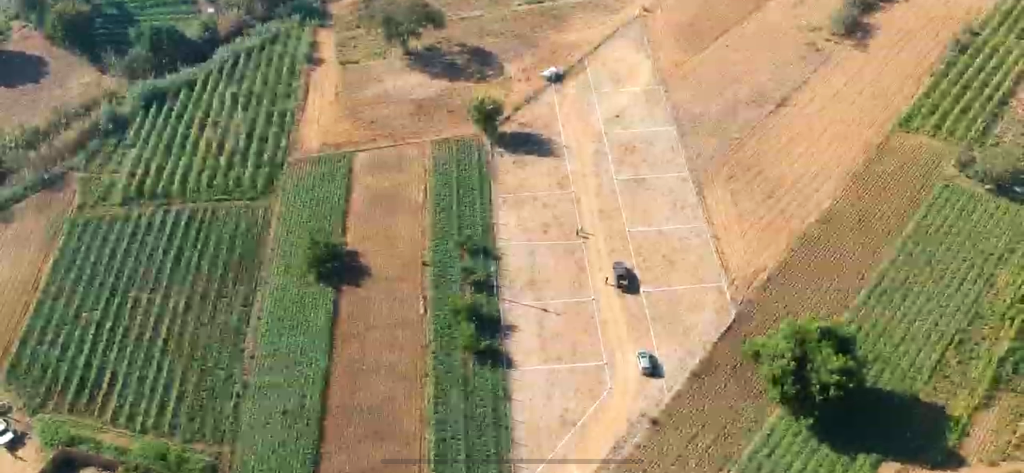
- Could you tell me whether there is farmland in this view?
Yes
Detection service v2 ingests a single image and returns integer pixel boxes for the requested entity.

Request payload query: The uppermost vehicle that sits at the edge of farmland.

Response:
[543,70,564,82]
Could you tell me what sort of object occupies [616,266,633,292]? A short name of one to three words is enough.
vehicle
